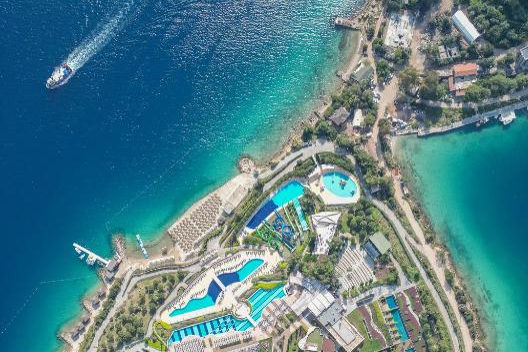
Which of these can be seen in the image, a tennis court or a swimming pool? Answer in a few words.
swimming pool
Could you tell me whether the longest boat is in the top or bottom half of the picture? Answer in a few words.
top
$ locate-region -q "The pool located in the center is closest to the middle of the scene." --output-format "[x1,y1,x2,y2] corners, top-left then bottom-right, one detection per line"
[246,180,305,229]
